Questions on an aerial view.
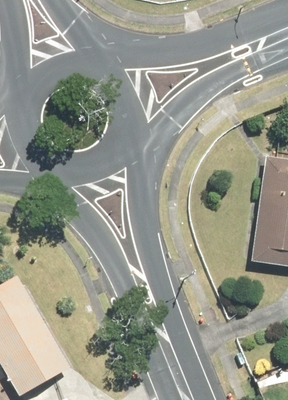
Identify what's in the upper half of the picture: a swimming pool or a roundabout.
roundabout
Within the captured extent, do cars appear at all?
No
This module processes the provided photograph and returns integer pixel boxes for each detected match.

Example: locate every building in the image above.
[0,276,70,396]
[252,156,288,266]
